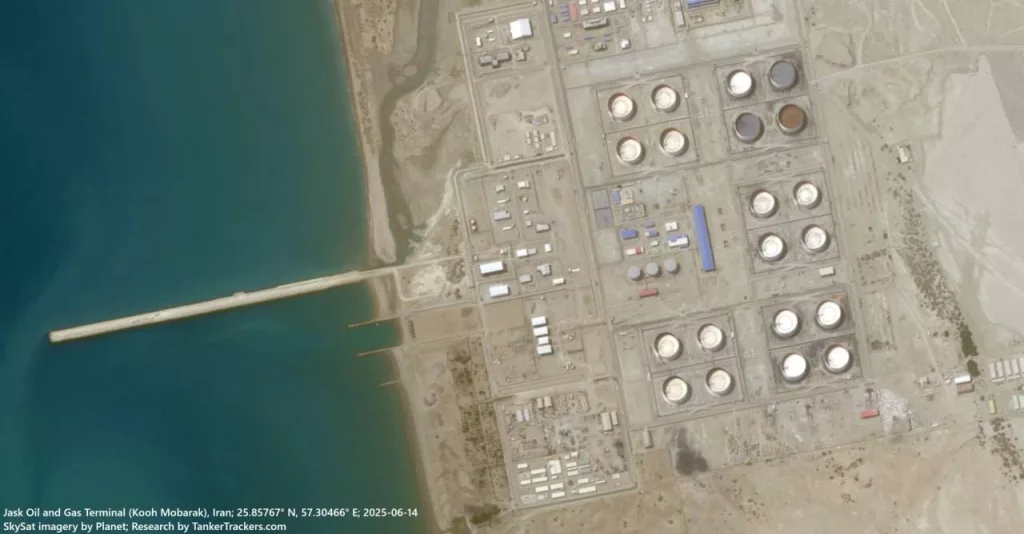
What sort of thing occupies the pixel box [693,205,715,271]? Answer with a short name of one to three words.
building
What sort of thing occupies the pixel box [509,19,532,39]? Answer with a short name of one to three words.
building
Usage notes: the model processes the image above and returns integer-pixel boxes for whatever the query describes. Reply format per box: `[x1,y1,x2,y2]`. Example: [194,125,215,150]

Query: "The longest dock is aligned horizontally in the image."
[48,265,401,342]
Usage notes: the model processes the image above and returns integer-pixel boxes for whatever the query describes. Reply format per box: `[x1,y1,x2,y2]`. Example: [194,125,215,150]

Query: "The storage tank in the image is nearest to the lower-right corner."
[823,343,851,372]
